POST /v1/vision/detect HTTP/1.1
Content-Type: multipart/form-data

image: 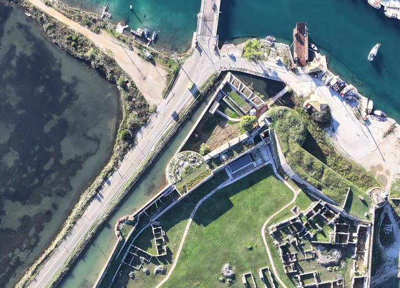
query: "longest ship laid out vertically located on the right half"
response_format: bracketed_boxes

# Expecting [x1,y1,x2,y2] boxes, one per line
[293,23,308,67]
